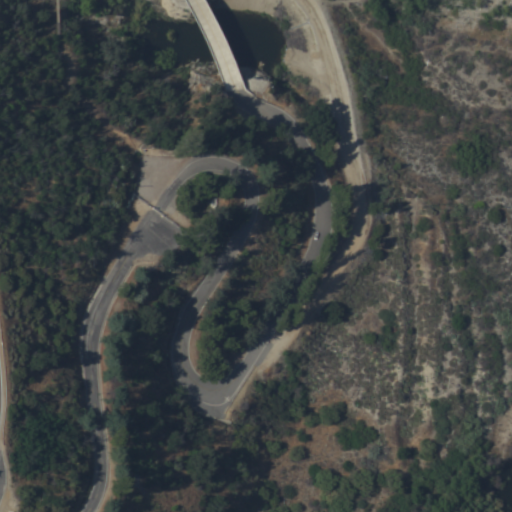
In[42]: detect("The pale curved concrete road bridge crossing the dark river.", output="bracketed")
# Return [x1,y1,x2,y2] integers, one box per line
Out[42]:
[186,0,254,106]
